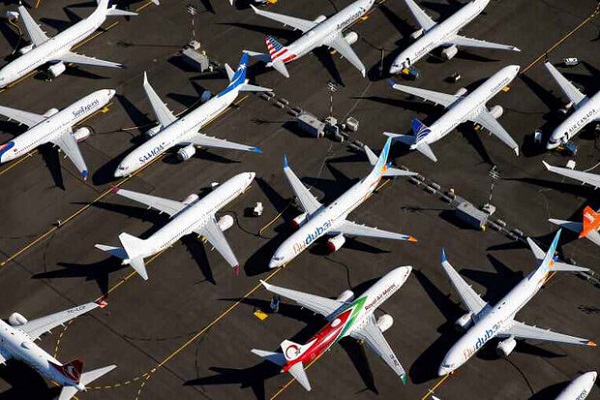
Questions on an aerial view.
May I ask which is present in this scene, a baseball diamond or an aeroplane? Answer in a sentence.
The one in the frame is an aeroplane.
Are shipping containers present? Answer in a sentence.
Yes, the image includes a shipping container.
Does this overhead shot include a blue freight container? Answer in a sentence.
No, there's no blue freight container here.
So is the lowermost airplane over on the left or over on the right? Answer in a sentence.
You can find the lowermost airplane on the right side of the picture.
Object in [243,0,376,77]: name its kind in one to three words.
airplane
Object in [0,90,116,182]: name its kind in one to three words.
airplane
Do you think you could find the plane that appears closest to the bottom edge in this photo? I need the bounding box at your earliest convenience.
[554,372,595,400]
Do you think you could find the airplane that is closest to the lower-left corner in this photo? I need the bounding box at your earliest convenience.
[0,295,117,400]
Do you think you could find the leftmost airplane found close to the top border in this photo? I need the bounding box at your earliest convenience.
[0,0,138,95]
